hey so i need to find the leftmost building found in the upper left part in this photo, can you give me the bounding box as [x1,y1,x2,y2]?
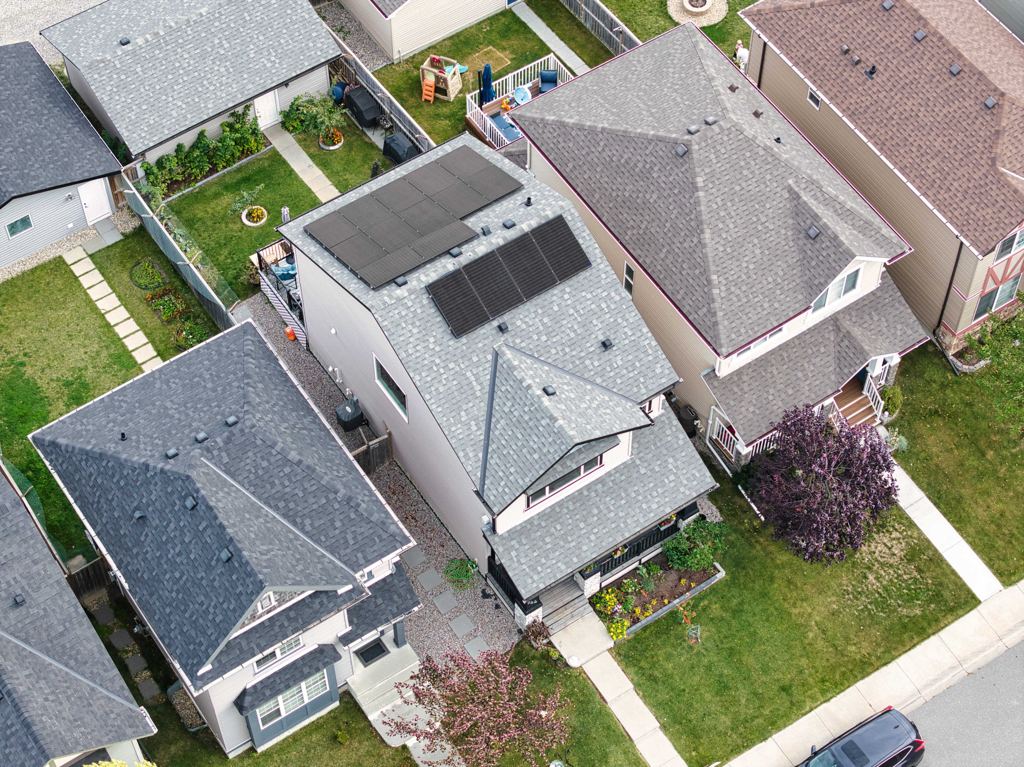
[0,39,126,268]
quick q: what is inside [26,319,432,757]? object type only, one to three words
house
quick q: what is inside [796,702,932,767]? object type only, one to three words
car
